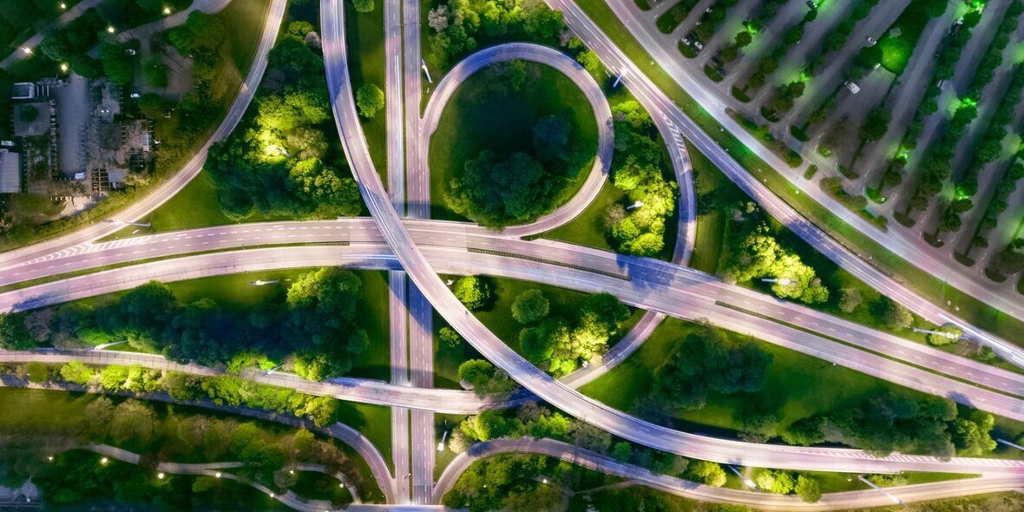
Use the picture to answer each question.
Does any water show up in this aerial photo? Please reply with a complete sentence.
No, the scene doesn't show any water.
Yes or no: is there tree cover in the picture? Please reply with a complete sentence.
Yes, there is tree cover in the image.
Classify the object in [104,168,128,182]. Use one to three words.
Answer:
shed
